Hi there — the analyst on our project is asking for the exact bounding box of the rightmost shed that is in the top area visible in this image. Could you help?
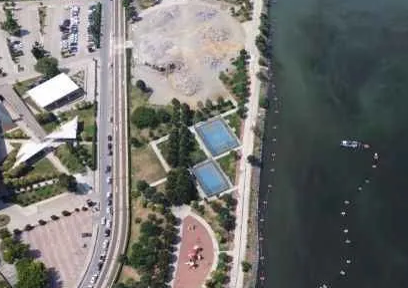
[27,73,82,111]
